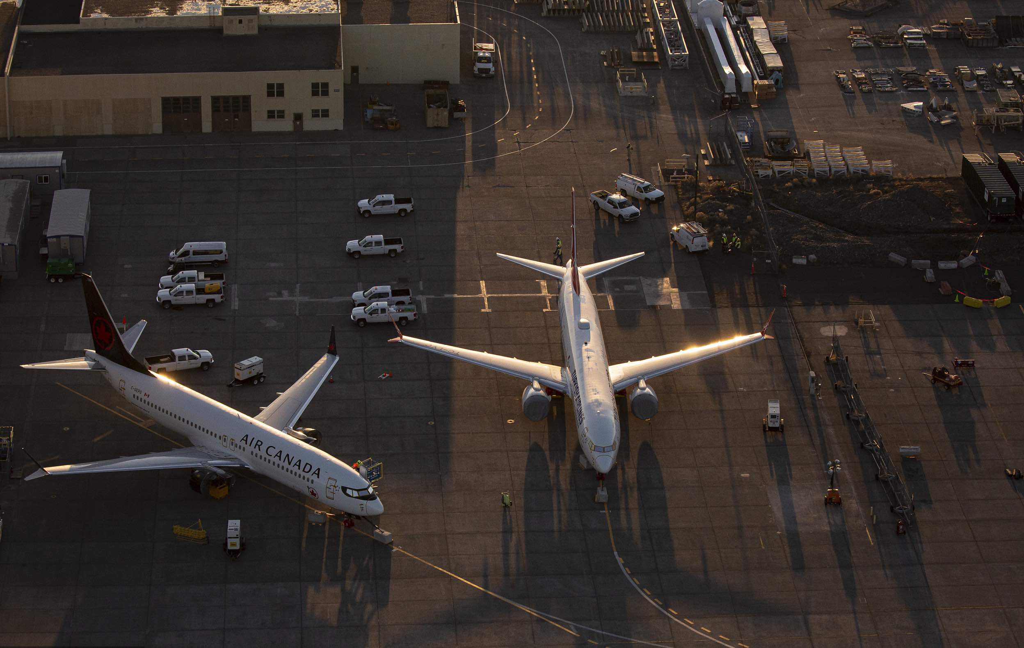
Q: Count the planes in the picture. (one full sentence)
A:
The photo contains 2 planes.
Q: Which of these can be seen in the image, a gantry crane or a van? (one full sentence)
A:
There is a van in the scene.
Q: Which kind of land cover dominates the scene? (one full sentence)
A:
Most of the picture is covered by paved ground.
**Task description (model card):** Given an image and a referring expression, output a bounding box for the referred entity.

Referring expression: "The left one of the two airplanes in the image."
[20,273,383,528]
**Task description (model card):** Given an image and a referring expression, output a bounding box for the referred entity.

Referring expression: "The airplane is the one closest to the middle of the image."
[389,190,776,473]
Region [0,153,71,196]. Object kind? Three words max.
building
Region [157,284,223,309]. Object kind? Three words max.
truck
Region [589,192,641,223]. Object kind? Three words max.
truck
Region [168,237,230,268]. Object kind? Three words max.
van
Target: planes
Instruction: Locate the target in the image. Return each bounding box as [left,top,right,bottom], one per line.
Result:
[20,273,383,528]
[389,190,776,473]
